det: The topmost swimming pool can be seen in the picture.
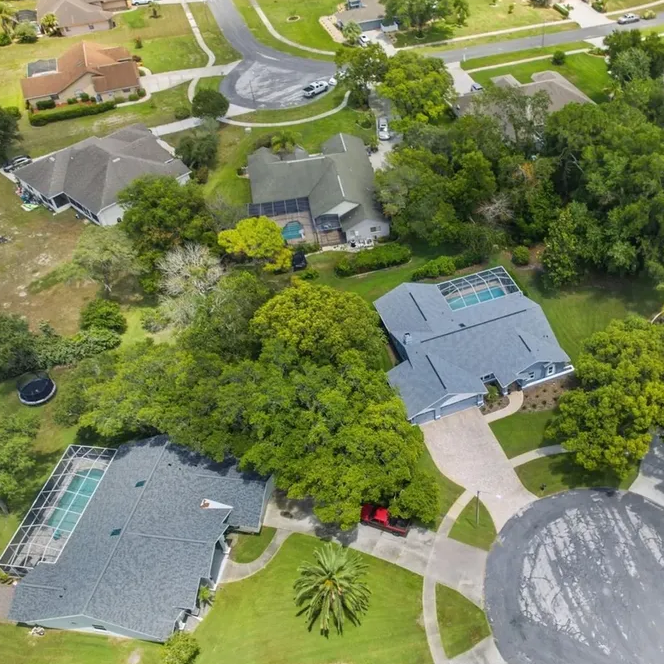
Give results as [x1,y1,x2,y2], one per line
[252,209,318,244]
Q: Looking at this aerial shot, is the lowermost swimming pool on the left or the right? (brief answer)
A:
left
